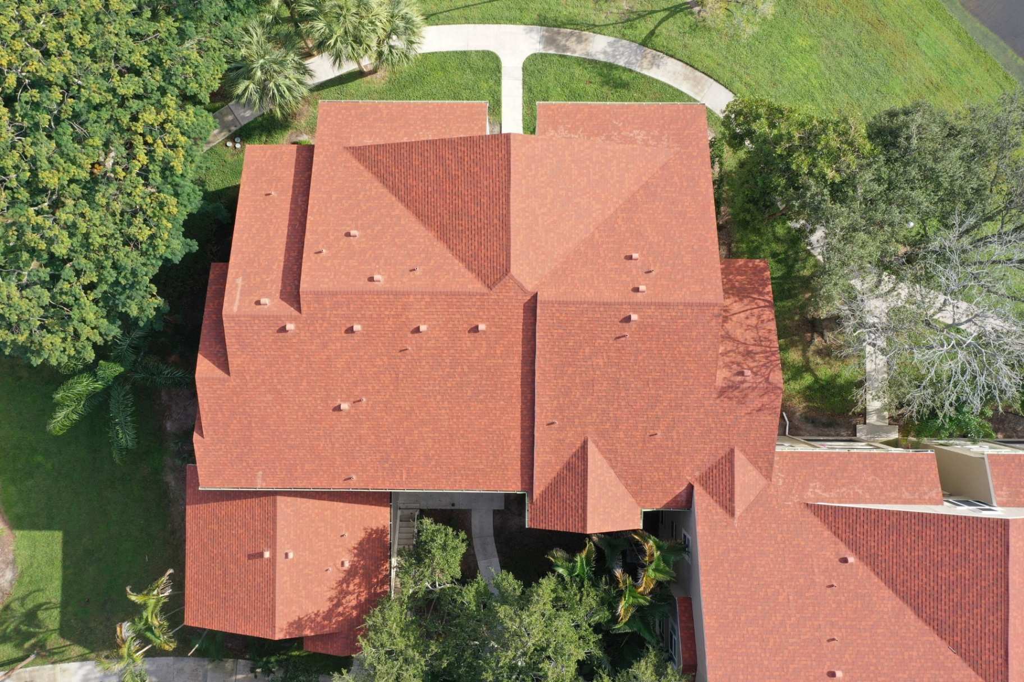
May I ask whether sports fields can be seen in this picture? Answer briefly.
No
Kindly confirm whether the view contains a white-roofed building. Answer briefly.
No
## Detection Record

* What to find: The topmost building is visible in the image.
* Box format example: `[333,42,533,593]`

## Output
[193,97,790,533]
